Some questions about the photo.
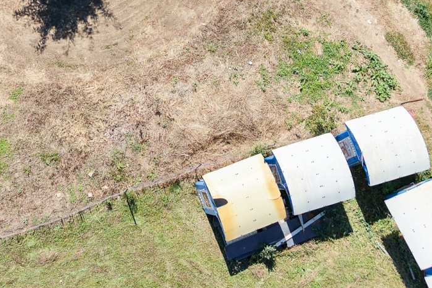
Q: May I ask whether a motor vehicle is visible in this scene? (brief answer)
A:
No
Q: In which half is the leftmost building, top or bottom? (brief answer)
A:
bottom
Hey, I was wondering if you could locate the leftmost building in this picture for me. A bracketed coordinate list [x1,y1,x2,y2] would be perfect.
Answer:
[187,154,286,242]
